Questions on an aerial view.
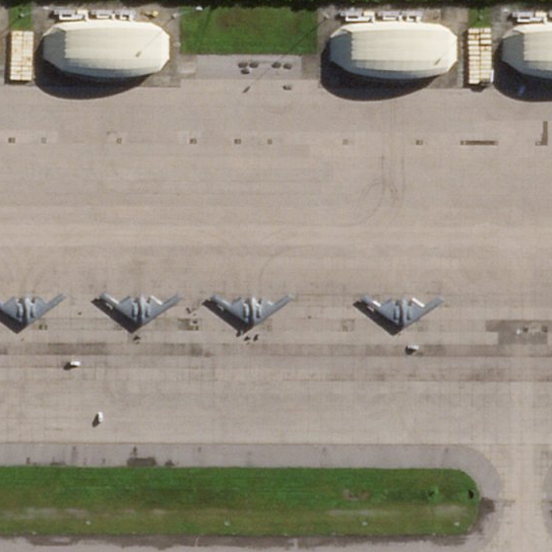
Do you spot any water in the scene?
No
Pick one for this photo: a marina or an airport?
airport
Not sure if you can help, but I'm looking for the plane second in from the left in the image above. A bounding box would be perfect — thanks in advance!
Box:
[98,293,183,325]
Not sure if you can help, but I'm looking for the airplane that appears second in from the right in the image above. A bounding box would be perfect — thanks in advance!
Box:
[209,293,295,325]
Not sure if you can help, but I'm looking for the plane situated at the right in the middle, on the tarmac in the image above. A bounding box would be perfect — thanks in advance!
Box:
[360,295,444,327]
